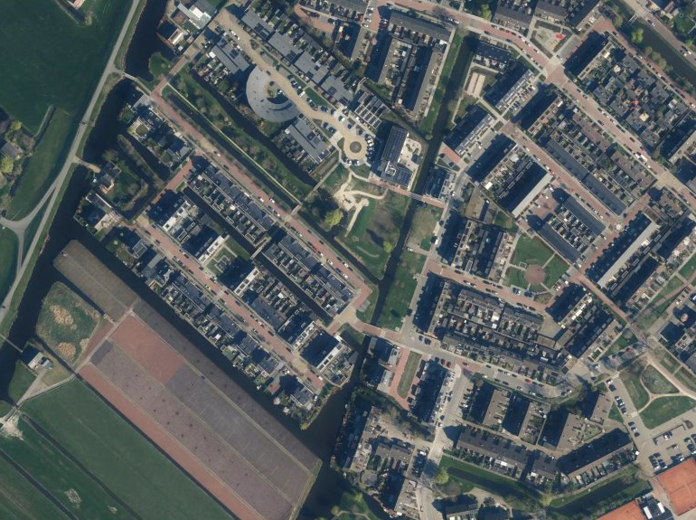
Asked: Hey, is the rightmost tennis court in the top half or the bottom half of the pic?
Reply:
bottom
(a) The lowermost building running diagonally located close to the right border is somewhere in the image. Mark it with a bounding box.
[642,494,672,520]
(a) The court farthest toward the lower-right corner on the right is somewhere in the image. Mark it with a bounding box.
[656,459,696,515]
